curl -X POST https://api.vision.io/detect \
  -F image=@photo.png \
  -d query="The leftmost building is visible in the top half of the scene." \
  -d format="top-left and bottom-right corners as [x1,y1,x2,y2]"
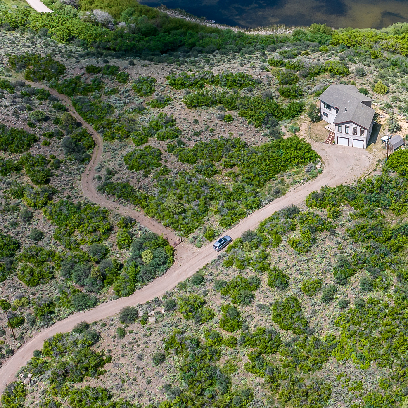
[316,84,378,149]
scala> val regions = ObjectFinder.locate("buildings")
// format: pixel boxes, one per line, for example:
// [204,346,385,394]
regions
[316,84,378,149]
[385,133,407,151]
